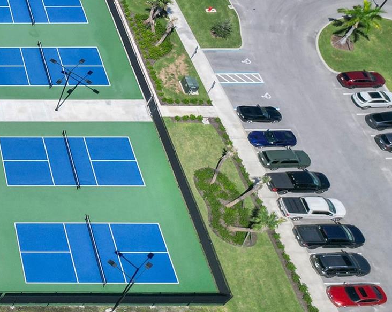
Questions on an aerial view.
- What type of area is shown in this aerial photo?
sports ground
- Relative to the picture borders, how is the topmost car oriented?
from left to right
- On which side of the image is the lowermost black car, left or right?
right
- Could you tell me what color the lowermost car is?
red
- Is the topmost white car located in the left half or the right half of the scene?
right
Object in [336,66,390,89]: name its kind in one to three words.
car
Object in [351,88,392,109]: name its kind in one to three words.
car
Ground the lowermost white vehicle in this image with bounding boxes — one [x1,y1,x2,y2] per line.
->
[277,191,351,219]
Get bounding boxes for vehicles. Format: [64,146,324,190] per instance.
[310,249,376,277]
[258,144,316,169]
[365,110,392,130]
[247,125,303,147]
[351,88,392,109]
[277,191,351,219]
[233,100,285,122]
[336,66,390,89]
[265,167,335,192]
[290,219,370,247]
[326,279,392,307]
[375,129,392,152]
